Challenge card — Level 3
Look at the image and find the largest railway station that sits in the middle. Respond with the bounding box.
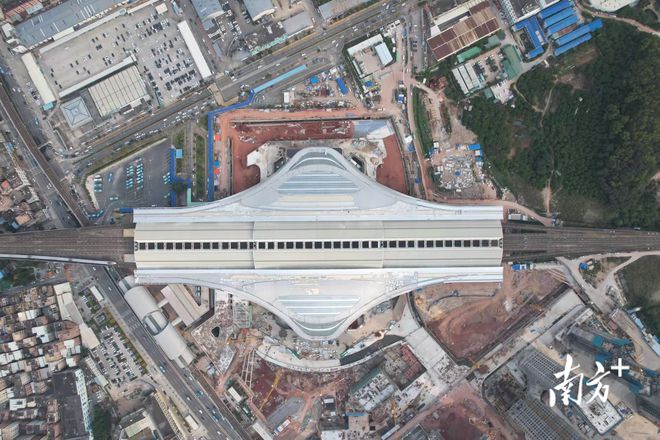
[135,148,503,340]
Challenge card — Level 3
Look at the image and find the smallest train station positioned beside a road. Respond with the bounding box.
[119,274,195,368]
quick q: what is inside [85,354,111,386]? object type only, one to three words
building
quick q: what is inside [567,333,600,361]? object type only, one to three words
shed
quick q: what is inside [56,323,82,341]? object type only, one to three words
house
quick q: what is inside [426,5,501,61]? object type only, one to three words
building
